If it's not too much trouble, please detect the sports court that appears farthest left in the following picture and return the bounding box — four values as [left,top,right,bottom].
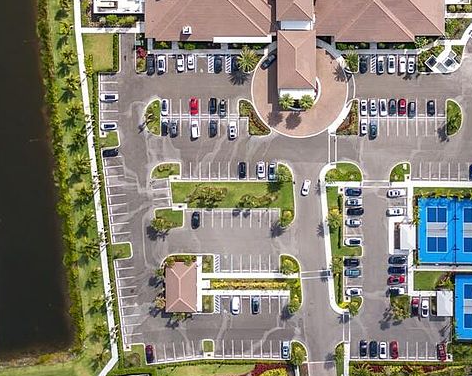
[419,200,456,265]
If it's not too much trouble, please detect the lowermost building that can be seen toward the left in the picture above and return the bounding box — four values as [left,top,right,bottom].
[166,261,198,312]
